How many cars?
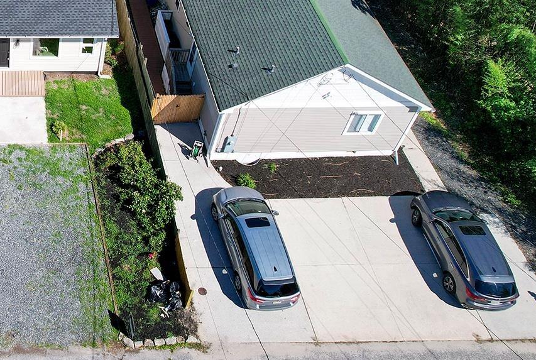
2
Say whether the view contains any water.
No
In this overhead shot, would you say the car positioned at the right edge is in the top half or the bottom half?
bottom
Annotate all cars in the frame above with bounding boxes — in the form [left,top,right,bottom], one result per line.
[413,193,516,315]
[218,192,301,315]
